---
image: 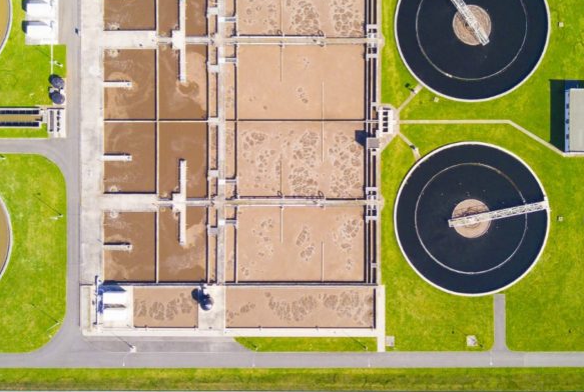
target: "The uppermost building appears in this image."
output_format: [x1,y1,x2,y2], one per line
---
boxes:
[27,4,57,17]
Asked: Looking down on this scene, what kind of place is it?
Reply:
industrial area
